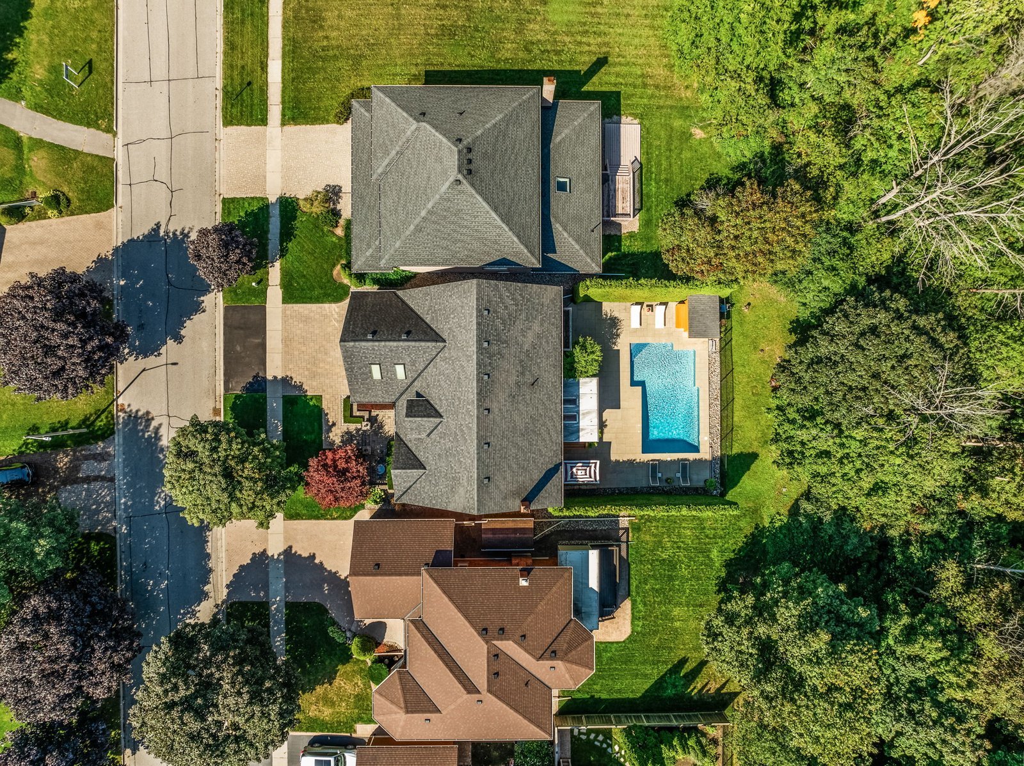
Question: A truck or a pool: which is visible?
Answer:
pool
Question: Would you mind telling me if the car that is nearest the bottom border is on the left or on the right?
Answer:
left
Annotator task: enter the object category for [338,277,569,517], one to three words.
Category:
house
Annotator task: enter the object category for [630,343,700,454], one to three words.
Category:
swimming pool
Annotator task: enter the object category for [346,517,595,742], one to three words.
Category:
house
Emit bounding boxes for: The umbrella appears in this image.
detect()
[565,460,599,484]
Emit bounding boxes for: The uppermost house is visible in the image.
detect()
[350,73,603,275]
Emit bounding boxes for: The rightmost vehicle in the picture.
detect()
[301,743,355,766]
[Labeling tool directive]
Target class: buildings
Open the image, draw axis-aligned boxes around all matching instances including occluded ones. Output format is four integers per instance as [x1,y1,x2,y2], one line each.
[677,294,722,338]
[338,277,569,517]
[346,517,595,742]
[350,73,603,275]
